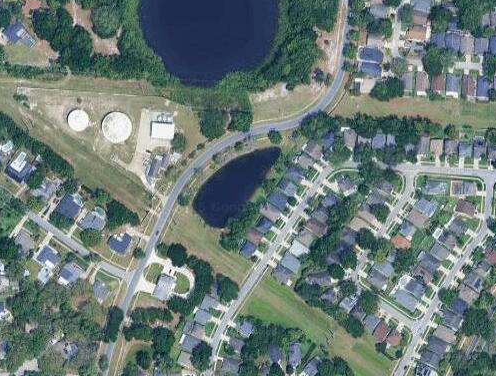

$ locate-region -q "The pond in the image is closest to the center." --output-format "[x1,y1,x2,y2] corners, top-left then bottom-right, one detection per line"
[193,146,280,227]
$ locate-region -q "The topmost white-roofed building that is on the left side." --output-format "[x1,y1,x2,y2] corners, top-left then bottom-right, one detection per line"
[151,121,175,140]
